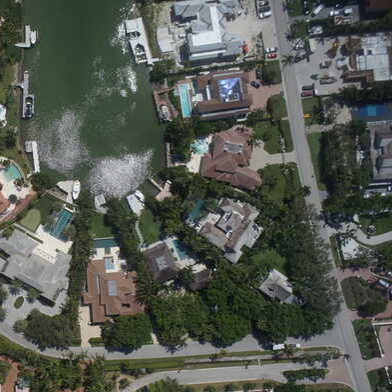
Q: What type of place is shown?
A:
residential area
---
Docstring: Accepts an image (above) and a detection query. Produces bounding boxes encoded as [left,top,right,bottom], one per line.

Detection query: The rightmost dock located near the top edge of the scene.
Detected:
[124,17,162,65]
